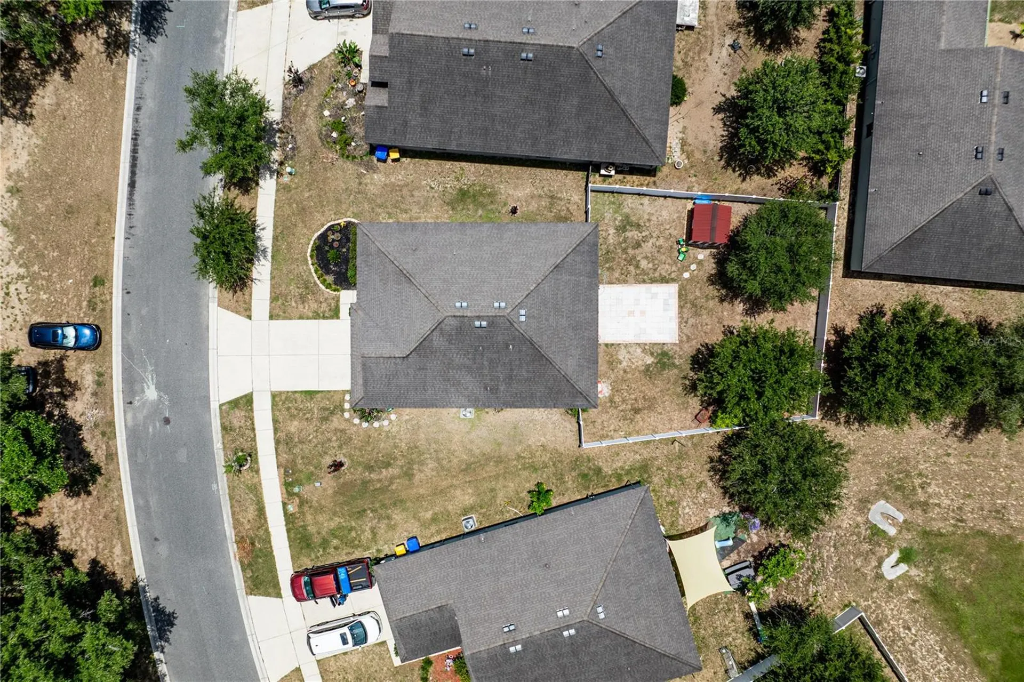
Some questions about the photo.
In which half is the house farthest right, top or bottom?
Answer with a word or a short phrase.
top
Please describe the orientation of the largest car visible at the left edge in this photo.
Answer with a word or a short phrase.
from side to side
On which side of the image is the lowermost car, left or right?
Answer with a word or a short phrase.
left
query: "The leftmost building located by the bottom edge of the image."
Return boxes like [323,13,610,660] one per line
[373,484,703,682]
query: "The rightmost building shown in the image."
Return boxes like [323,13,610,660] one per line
[852,0,1024,285]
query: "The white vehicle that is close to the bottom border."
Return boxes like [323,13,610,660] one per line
[307,608,384,656]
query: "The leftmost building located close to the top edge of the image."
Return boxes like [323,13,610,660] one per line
[364,0,682,167]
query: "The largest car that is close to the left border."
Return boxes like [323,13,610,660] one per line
[26,318,106,354]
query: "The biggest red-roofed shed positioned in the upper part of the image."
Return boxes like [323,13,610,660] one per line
[680,204,730,247]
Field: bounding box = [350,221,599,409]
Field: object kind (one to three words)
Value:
house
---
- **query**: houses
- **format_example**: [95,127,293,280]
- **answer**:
[373,484,703,682]
[852,0,1024,285]
[350,221,599,409]
[364,0,682,167]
